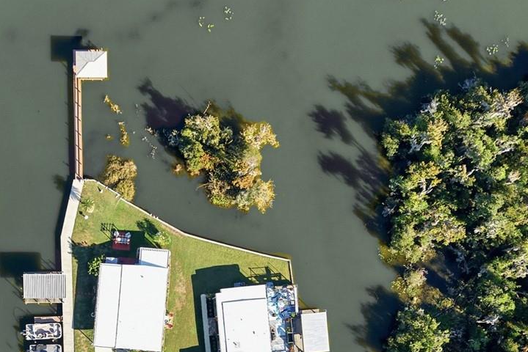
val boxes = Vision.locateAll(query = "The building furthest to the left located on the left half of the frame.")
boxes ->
[23,274,65,304]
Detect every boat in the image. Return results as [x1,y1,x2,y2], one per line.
[29,345,63,352]
[22,323,63,339]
